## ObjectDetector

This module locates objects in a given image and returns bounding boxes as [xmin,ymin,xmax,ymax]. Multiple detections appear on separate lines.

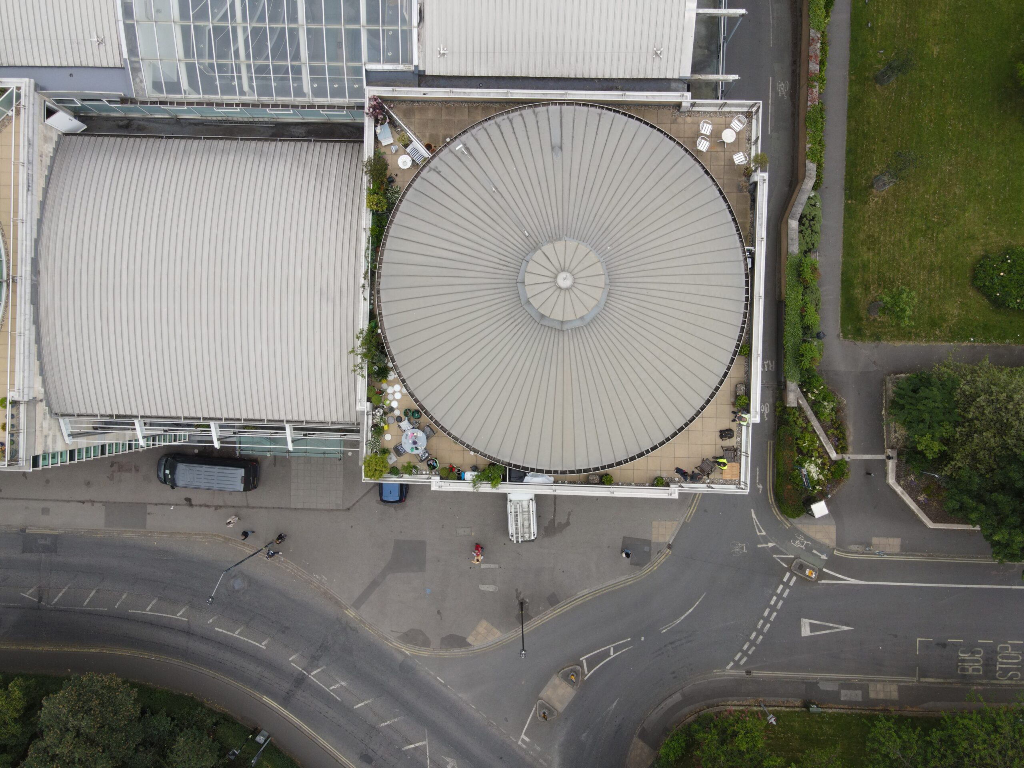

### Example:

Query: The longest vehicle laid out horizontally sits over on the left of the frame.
[152,449,262,491]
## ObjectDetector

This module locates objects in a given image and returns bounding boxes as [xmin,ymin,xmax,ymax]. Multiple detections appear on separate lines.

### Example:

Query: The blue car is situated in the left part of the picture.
[378,483,409,506]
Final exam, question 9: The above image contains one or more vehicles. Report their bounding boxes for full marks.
[504,493,539,546]
[378,483,409,506]
[152,449,262,491]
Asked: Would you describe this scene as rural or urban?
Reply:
urban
